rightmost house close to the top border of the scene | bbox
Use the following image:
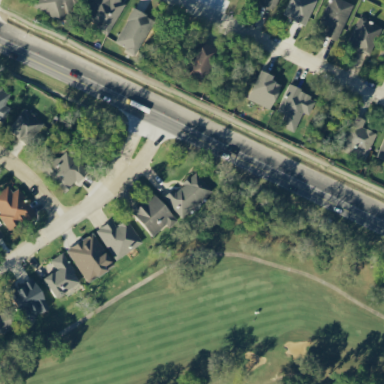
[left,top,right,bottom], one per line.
[354,14,384,58]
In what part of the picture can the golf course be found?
bottom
